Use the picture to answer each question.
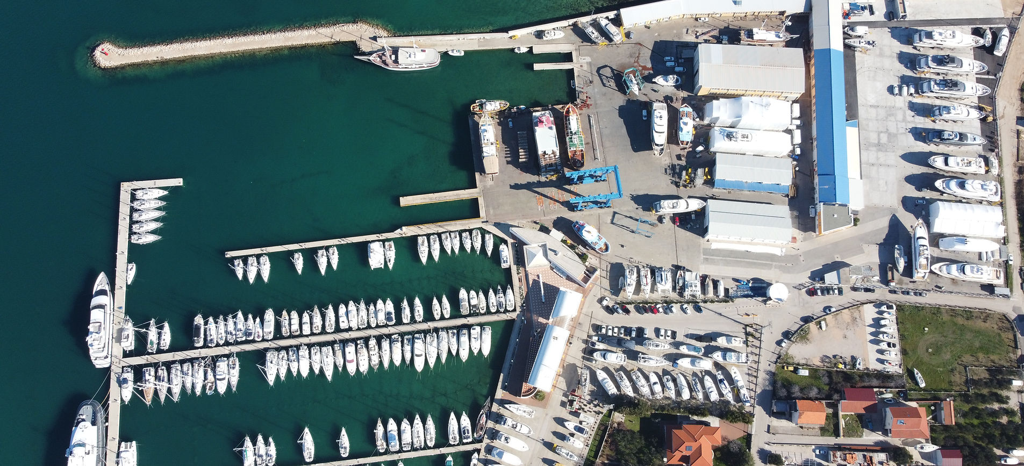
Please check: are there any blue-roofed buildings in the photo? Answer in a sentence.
Yes, the picture does show a blue-roofed building.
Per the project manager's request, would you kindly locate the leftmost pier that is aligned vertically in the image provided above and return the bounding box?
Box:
[106,178,184,466]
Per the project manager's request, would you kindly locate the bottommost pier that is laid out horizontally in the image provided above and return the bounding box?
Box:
[300,443,482,466]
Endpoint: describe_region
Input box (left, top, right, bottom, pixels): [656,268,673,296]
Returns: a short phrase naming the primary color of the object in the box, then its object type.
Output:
white boat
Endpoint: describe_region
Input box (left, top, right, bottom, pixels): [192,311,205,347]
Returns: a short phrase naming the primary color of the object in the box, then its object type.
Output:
white boat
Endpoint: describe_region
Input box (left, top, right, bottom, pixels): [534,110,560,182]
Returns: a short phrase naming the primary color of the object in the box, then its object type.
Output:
white ship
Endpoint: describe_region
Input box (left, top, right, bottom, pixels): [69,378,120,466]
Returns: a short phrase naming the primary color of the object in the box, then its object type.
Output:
white vessel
